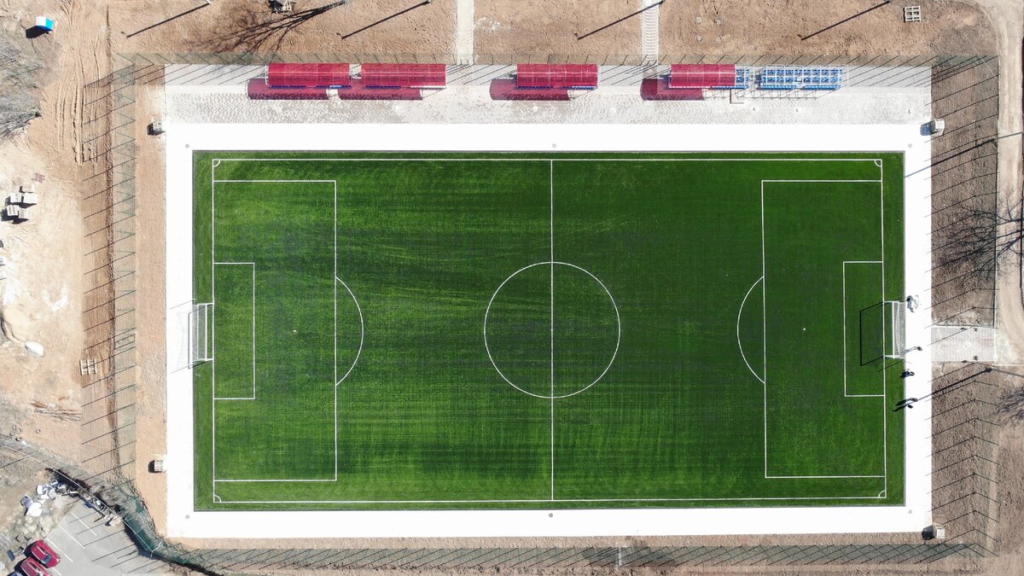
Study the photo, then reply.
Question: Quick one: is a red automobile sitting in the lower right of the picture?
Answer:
No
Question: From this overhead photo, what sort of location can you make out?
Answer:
sports ground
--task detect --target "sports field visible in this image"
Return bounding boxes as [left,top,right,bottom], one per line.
[193,151,906,512]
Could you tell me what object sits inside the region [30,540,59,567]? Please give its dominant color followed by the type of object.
red car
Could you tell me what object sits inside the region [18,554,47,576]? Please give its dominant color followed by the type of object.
red car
